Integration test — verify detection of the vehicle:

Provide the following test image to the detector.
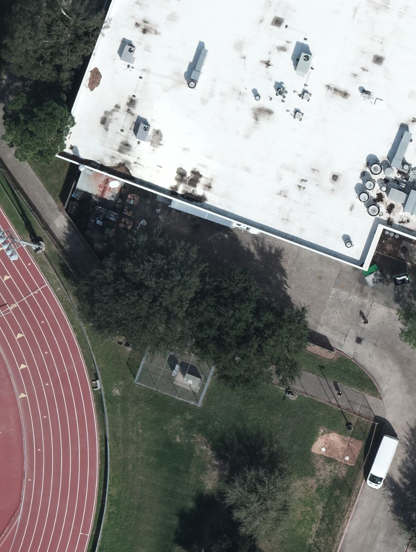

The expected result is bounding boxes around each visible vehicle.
[368,436,398,490]
[233,223,261,240]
